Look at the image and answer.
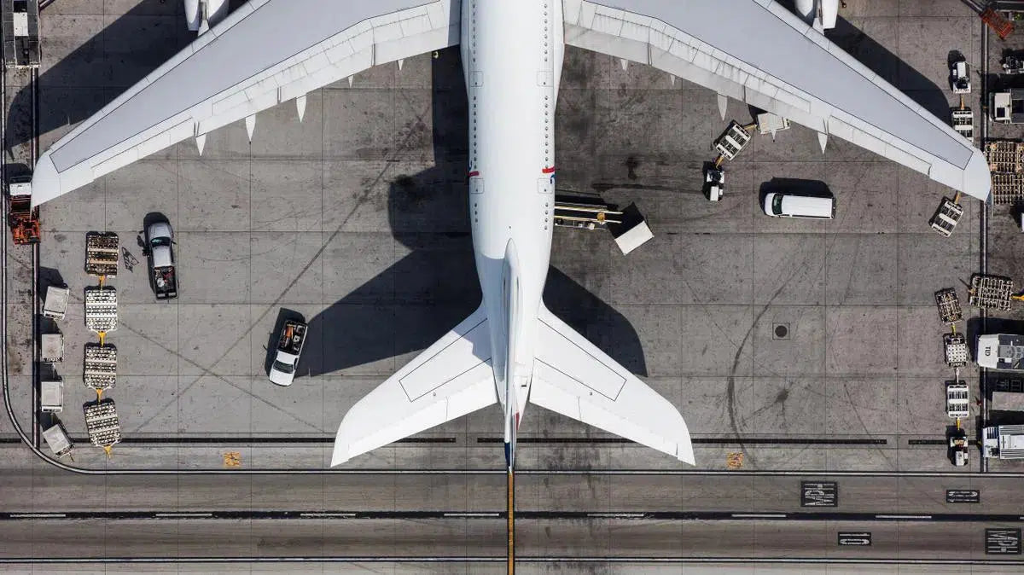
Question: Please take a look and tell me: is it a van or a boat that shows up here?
van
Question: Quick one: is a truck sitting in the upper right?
Yes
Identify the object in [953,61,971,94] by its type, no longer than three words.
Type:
work vehicle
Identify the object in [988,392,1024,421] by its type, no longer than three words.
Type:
trailer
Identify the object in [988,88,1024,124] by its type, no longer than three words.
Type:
truck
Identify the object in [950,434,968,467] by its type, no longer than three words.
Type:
work vehicle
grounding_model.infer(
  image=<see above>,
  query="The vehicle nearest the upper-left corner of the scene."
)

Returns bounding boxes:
[3,0,42,68]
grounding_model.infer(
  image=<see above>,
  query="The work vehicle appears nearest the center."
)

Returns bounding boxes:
[552,203,624,236]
